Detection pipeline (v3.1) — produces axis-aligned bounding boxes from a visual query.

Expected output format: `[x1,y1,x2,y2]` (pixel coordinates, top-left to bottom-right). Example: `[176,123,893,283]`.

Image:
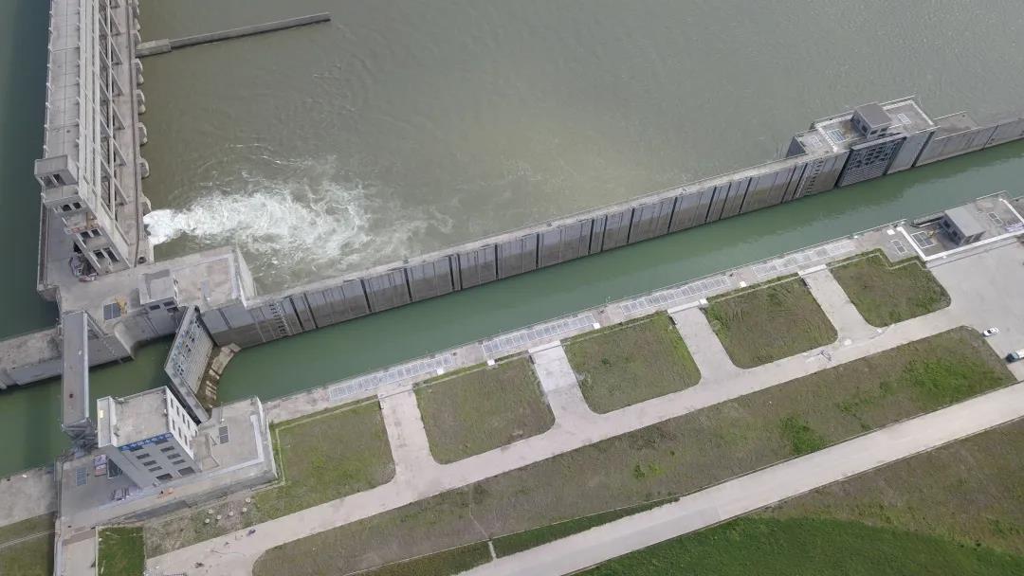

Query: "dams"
[35,0,166,294]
